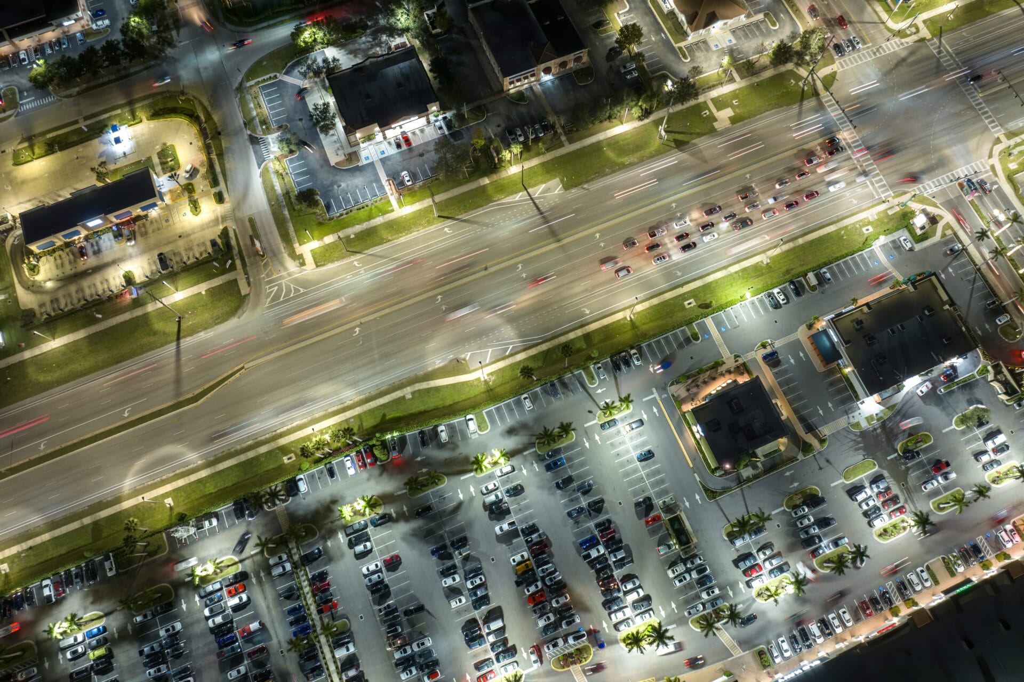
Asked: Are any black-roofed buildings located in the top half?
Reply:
Yes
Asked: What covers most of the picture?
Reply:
paved ground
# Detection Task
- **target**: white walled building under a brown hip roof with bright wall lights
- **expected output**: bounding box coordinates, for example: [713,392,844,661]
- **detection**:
[669,0,749,38]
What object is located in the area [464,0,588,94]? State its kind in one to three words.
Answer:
building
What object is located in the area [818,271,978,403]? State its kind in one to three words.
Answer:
building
